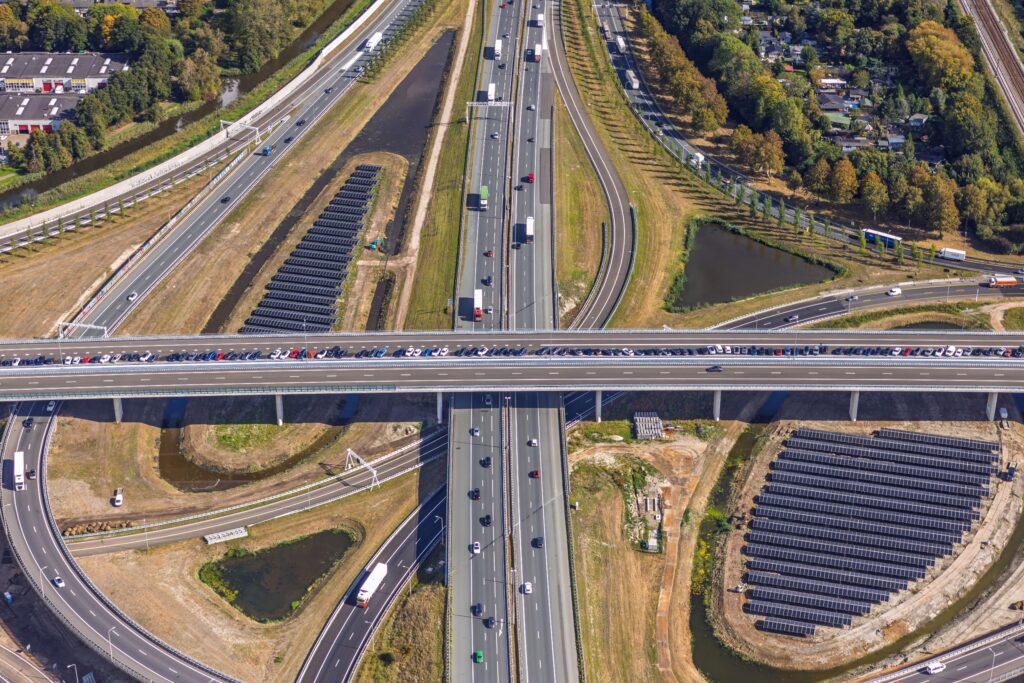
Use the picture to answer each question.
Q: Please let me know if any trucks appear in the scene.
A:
Yes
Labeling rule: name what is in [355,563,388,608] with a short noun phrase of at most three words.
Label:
truck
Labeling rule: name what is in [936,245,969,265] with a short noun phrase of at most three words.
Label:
vehicle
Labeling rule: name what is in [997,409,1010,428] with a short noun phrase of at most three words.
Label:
vehicle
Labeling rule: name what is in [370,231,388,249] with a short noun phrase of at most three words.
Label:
work vehicle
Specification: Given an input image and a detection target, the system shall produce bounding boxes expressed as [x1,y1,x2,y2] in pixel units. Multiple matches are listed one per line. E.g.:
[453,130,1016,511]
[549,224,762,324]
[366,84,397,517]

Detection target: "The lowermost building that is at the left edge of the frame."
[0,93,85,135]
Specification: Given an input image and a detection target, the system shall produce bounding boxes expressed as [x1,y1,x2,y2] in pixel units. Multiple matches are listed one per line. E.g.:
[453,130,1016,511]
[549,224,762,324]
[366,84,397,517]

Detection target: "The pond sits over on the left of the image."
[211,532,352,621]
